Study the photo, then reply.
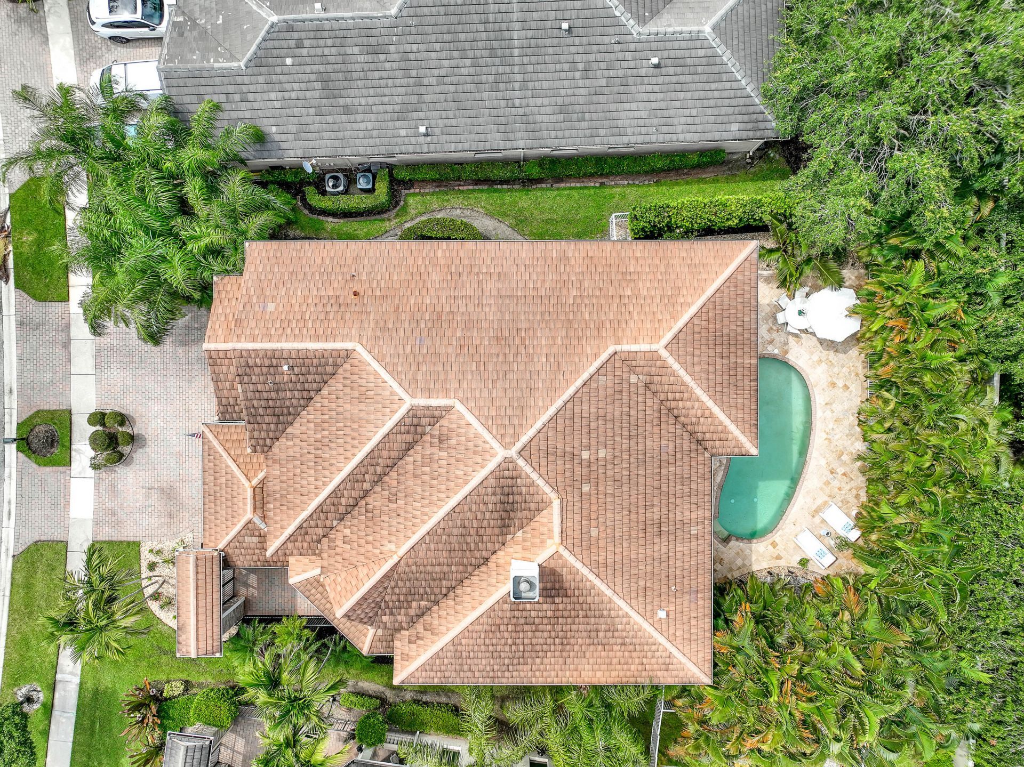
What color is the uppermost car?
white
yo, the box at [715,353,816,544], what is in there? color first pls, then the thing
green swimming pool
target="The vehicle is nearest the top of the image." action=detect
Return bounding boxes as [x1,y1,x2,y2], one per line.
[81,0,166,45]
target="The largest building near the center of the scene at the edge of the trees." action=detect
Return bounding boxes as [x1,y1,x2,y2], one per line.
[199,239,761,688]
